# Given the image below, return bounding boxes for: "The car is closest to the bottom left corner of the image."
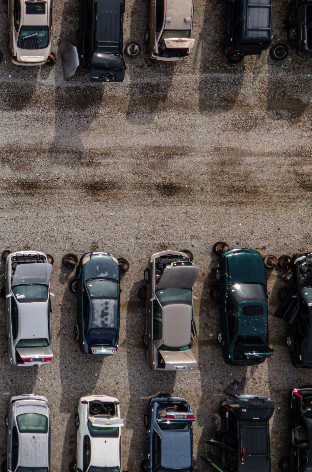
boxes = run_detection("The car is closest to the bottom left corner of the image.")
[5,394,56,472]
